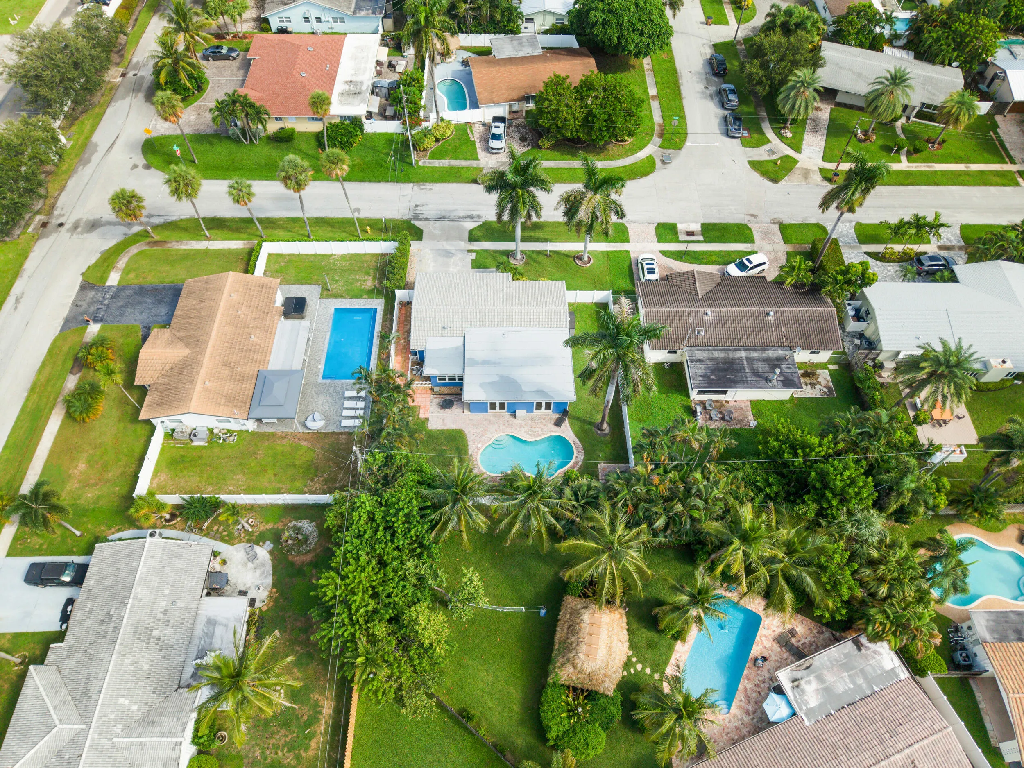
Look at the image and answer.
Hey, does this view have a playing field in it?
No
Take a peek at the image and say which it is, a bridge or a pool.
pool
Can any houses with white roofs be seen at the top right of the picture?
Yes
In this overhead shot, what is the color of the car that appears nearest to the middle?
white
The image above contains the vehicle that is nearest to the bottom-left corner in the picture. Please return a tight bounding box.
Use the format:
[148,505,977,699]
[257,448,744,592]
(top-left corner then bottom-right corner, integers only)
[6,559,88,595]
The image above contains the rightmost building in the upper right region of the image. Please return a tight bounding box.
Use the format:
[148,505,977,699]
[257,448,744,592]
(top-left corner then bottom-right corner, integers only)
[990,44,1024,106]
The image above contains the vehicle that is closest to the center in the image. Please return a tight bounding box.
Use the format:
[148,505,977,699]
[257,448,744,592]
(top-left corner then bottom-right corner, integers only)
[638,250,664,281]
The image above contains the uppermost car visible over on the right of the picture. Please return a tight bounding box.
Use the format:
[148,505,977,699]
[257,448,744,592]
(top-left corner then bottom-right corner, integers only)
[709,50,731,73]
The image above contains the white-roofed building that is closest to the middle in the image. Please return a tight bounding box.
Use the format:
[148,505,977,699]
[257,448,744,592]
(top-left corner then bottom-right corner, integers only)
[411,272,576,413]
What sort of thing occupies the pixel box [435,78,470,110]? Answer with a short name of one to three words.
swimming pool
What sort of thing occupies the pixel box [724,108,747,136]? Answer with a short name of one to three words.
car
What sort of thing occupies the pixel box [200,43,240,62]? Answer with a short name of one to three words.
car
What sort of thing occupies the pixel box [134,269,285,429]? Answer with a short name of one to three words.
house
